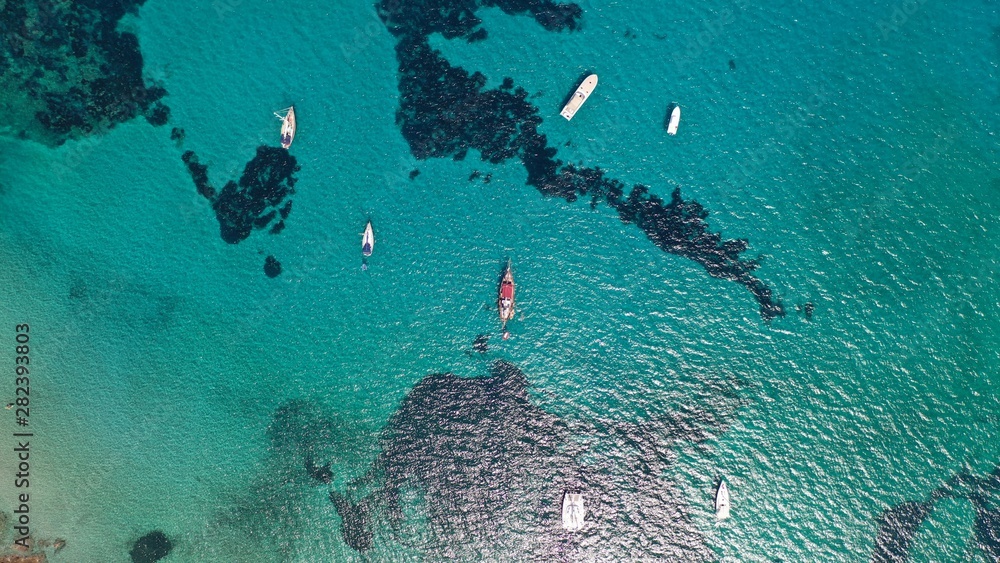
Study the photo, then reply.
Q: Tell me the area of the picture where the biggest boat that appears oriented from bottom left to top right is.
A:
top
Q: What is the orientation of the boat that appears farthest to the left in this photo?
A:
from top to bottom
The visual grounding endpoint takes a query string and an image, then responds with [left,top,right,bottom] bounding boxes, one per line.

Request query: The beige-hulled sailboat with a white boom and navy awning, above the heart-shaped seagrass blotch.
[275,106,297,150]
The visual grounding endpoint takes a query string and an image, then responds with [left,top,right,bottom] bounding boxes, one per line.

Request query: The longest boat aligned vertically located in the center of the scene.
[498,260,515,330]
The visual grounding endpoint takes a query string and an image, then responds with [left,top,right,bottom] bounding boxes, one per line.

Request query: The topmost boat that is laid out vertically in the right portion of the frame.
[668,105,681,137]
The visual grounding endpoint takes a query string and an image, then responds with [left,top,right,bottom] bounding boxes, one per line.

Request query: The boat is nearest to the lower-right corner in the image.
[716,481,734,518]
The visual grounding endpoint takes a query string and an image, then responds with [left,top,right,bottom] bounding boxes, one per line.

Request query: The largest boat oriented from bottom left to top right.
[561,73,599,121]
